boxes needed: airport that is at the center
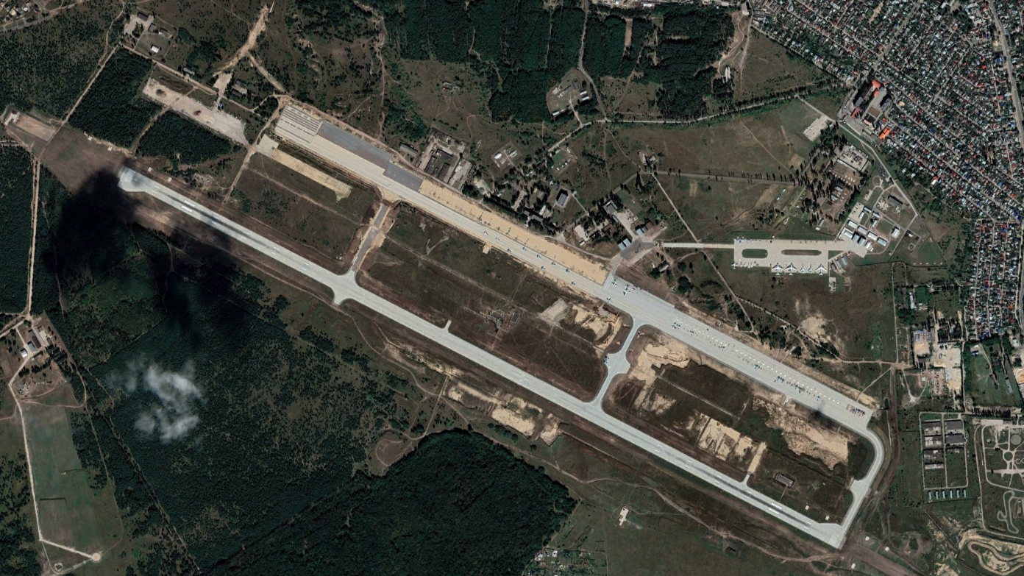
[115,78,884,553]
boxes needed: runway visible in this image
[115,165,853,553]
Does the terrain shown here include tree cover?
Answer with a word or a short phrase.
Yes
